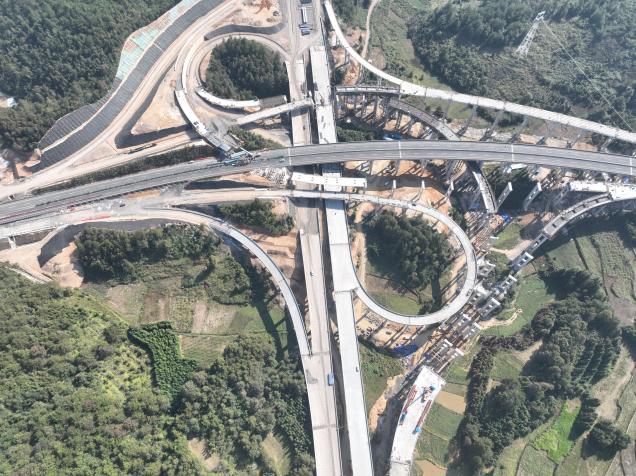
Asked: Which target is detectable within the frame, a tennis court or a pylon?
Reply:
pylon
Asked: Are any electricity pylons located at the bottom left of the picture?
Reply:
No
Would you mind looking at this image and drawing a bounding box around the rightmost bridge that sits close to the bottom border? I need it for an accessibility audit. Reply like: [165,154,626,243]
[388,366,445,476]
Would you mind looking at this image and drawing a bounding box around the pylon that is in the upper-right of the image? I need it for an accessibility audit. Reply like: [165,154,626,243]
[516,10,546,58]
